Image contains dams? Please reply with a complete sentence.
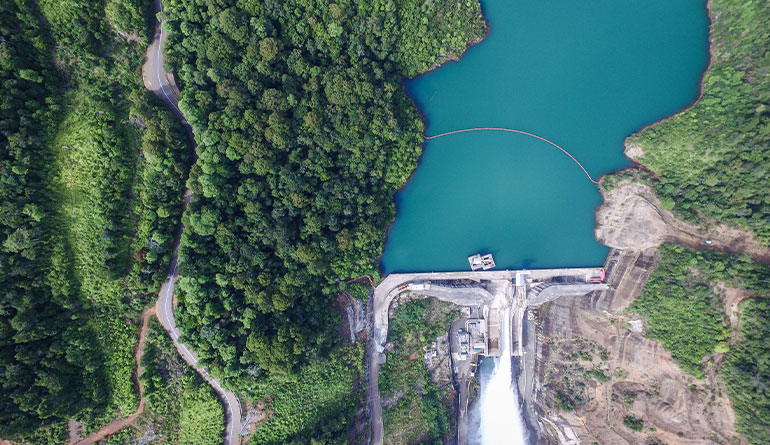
Yes, there's a dam down there.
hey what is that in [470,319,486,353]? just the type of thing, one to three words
building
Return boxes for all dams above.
[372,266,611,359]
